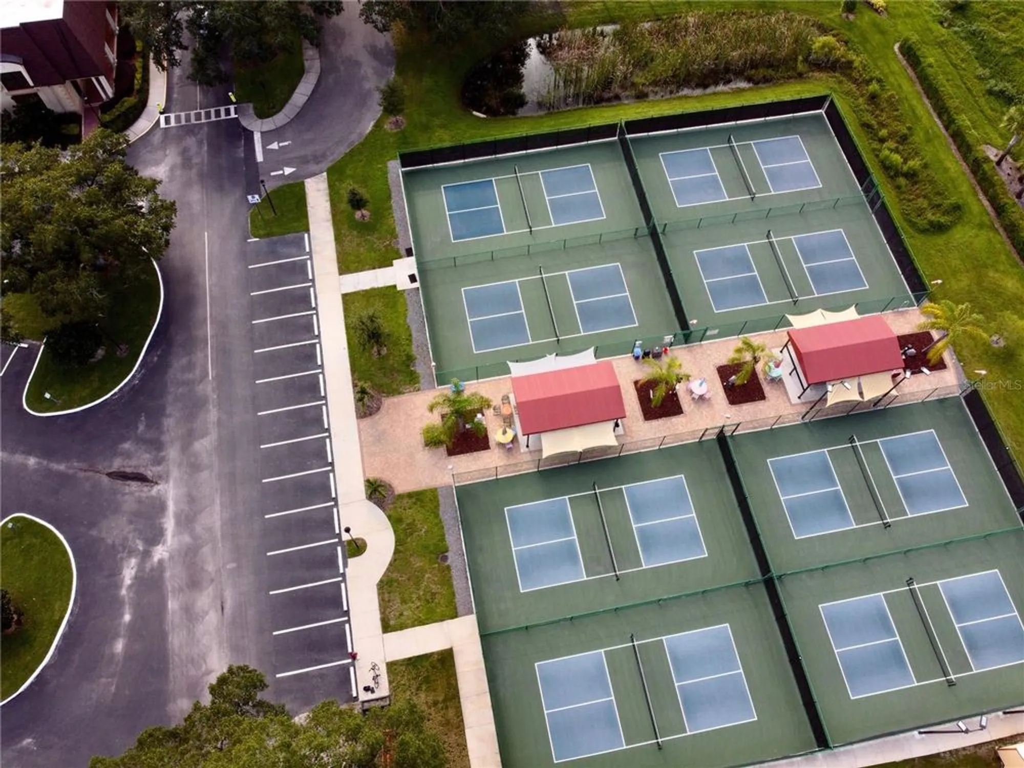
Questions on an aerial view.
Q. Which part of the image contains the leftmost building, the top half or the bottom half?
top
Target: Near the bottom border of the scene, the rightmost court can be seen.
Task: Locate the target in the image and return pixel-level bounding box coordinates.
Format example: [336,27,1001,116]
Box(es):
[763,529,1024,750]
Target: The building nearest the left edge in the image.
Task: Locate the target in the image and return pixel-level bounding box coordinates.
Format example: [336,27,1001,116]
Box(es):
[0,0,117,112]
